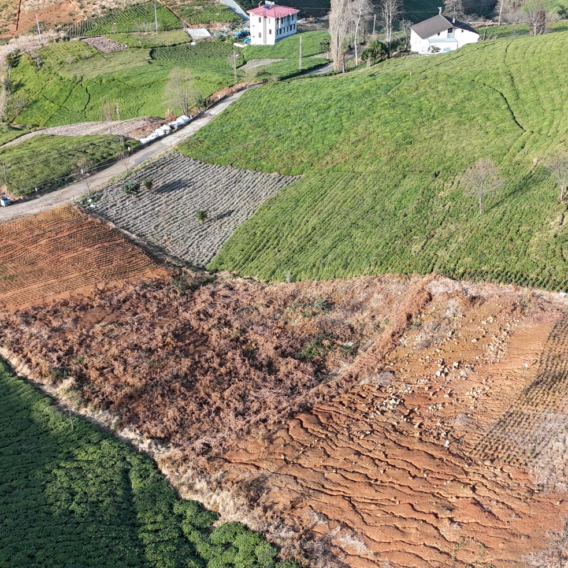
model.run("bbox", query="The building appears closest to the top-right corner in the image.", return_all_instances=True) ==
[409,0,486,53]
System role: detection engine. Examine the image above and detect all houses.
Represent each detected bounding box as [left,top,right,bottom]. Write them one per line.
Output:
[243,0,301,44]
[409,0,486,53]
